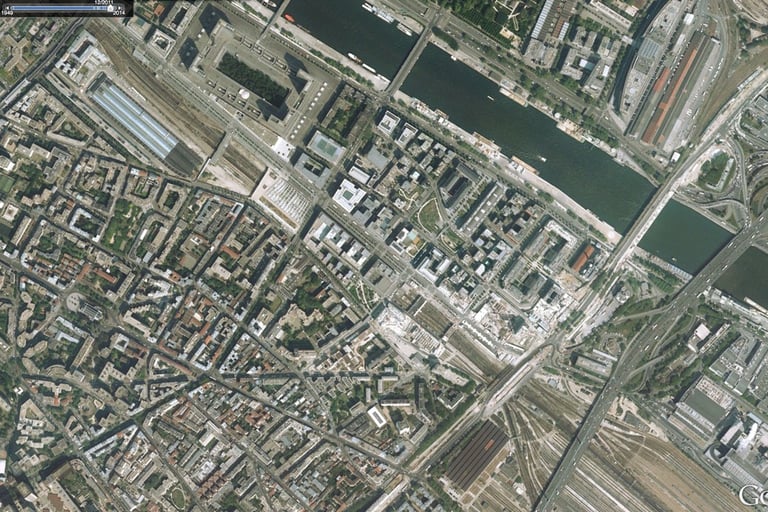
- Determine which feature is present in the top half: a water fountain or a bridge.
bridge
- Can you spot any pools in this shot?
No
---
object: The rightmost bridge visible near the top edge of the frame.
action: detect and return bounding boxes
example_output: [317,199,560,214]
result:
[383,18,440,106]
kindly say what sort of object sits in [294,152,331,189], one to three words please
building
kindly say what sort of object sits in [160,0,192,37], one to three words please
building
